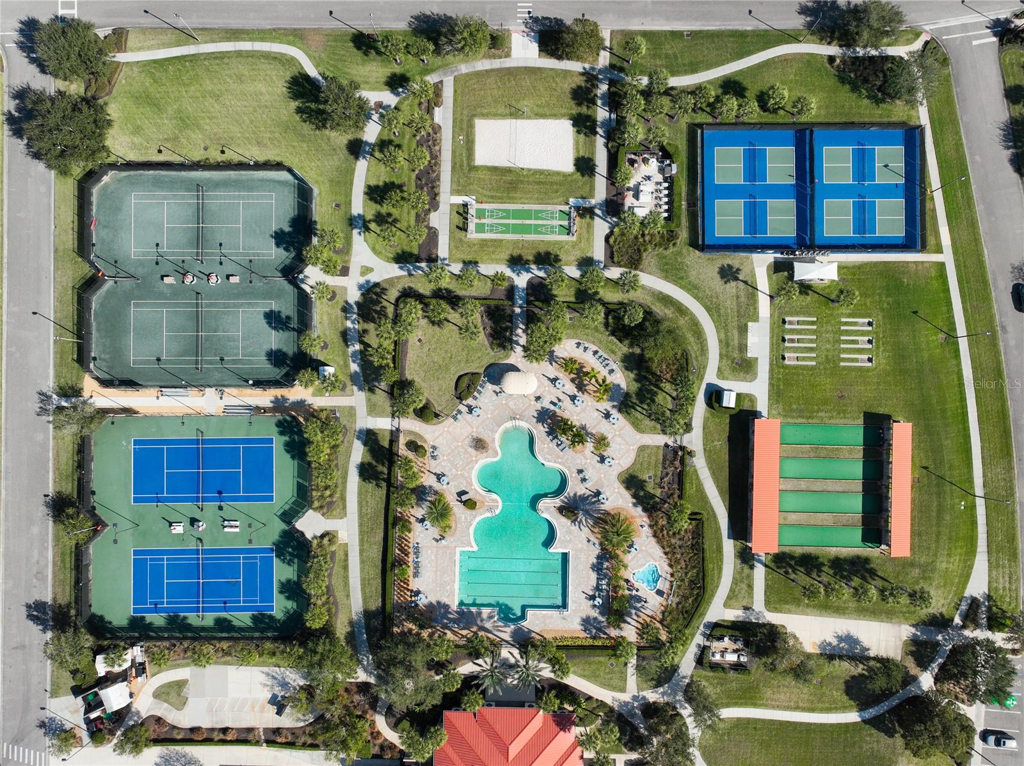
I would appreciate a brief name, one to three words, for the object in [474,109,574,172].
sports court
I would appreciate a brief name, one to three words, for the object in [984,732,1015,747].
car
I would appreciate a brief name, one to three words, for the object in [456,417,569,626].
swimming pool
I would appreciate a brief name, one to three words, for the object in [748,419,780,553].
building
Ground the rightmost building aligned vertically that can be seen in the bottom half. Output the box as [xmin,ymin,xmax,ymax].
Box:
[883,422,912,557]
